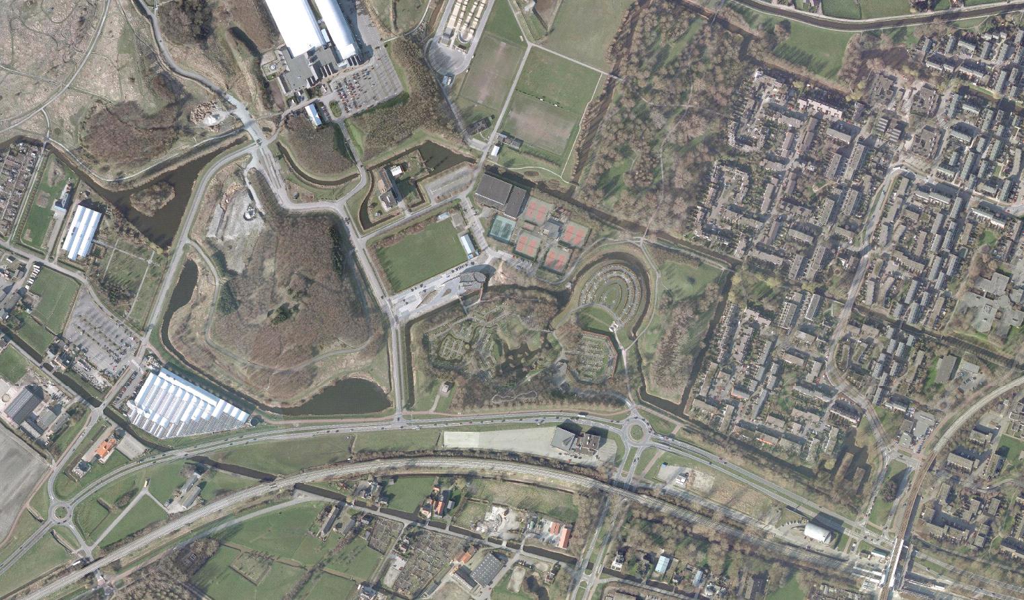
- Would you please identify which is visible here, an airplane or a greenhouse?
greenhouse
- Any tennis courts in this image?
Yes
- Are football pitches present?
Yes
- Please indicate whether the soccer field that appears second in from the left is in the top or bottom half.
top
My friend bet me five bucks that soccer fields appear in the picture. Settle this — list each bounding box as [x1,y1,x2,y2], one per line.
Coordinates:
[516,46,600,115]
[504,93,577,154]
[462,33,524,110]
[372,217,475,292]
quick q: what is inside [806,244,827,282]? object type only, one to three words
house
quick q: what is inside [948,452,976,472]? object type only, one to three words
building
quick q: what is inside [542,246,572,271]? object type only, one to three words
tennis court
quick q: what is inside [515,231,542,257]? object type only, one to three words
tennis court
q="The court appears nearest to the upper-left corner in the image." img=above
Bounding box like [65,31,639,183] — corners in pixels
[488,215,516,243]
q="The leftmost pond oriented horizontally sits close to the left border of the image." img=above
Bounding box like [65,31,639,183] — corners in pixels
[0,137,251,250]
